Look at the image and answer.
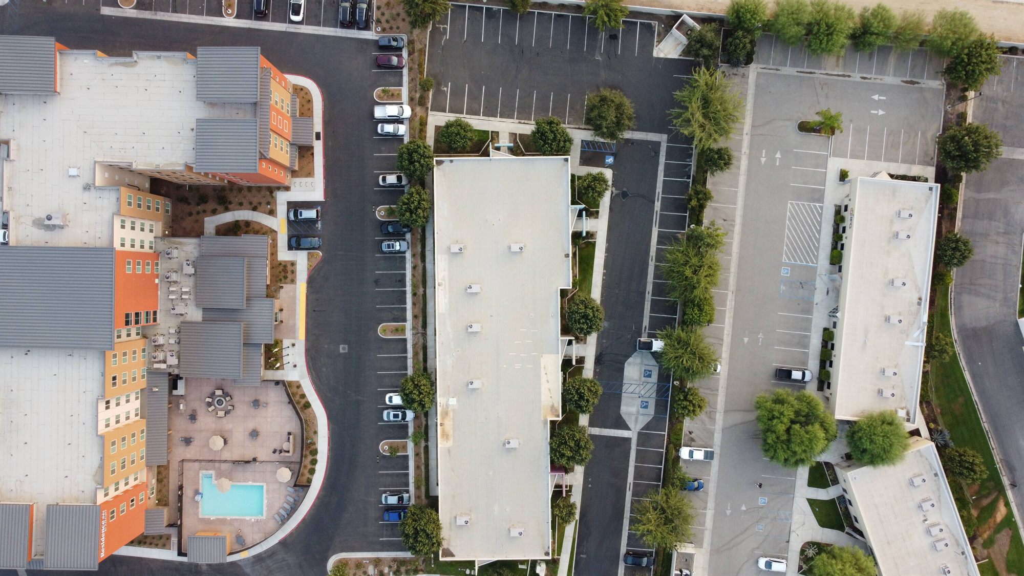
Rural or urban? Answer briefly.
urban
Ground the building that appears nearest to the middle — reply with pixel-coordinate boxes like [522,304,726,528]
[434,140,589,576]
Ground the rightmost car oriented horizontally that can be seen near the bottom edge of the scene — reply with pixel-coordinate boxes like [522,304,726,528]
[756,556,787,571]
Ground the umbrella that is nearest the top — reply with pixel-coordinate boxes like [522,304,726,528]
[209,435,225,451]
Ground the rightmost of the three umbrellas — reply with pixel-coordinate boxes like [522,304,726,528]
[276,467,292,482]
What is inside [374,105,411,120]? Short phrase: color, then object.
white vehicle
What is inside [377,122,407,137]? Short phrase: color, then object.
white car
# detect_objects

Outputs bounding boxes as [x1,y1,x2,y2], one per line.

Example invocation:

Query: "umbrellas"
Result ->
[216,477,231,493]
[276,467,292,482]
[209,435,225,451]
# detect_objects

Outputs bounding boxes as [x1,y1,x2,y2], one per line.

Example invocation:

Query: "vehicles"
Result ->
[290,207,322,221]
[374,105,411,120]
[256,0,269,19]
[379,173,409,187]
[756,556,787,571]
[377,122,407,137]
[678,445,714,460]
[0,229,8,244]
[290,0,304,22]
[0,214,8,228]
[382,491,411,505]
[378,36,405,50]
[705,360,721,374]
[291,236,323,250]
[381,220,411,234]
[385,392,411,406]
[384,508,409,520]
[773,367,812,383]
[355,0,369,29]
[339,0,353,28]
[623,552,654,567]
[383,408,416,422]
[377,54,406,69]
[381,239,409,253]
[635,337,670,353]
